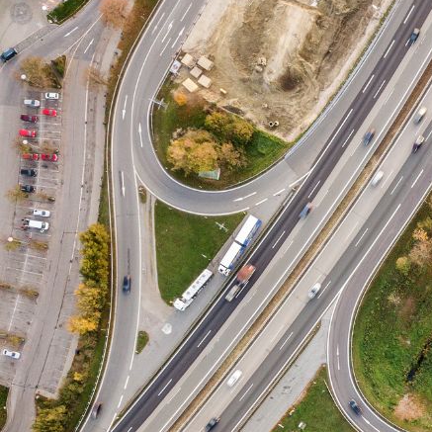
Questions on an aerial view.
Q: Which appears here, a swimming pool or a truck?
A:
truck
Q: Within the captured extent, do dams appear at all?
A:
No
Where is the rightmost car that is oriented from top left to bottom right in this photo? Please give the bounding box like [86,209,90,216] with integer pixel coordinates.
[347,400,361,415]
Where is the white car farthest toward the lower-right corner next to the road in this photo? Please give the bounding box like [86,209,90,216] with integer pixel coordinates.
[306,283,320,298]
